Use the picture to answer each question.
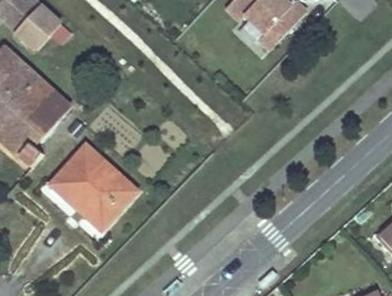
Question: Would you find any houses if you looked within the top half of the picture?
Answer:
Yes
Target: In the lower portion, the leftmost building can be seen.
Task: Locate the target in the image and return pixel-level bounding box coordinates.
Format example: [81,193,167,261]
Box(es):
[48,138,142,240]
